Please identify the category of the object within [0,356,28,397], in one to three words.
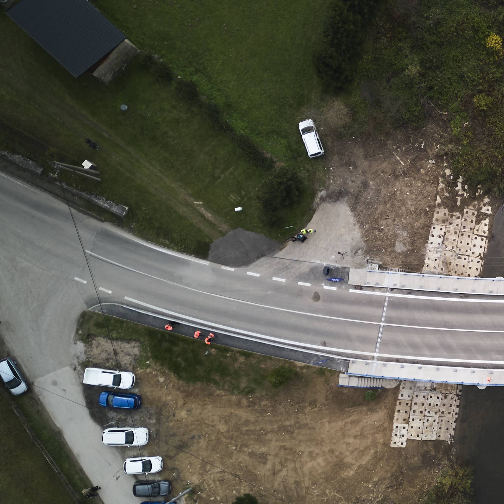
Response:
car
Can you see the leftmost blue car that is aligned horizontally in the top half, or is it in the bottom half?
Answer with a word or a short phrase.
bottom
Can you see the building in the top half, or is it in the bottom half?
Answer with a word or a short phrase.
top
